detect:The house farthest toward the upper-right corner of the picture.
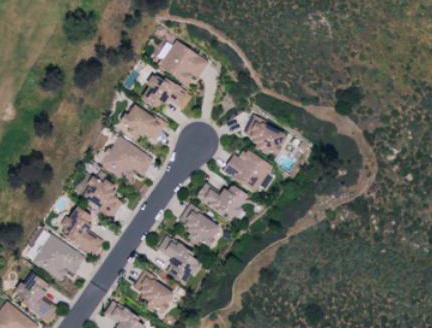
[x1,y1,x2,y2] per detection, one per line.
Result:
[242,114,287,158]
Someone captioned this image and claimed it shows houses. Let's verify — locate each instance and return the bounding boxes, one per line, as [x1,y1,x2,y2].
[134,271,174,315]
[179,204,220,247]
[12,272,56,321]
[120,104,167,139]
[100,137,152,184]
[82,176,122,216]
[197,184,250,222]
[32,234,84,281]
[105,302,144,328]
[60,208,102,254]
[142,74,191,109]
[159,40,208,84]
[242,114,287,158]
[0,301,38,328]
[158,236,202,284]
[224,150,272,192]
